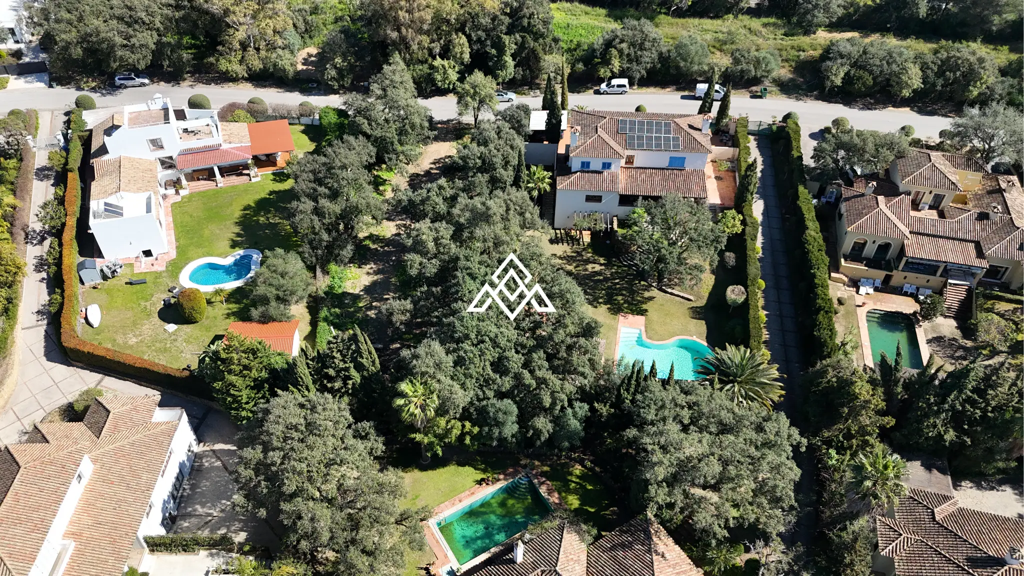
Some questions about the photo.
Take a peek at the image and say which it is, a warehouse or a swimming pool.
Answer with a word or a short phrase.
swimming pool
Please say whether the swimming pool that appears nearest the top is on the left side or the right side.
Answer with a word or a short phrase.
left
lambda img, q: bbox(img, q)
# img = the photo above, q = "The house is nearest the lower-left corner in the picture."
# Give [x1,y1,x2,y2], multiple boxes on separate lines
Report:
[0,394,201,576]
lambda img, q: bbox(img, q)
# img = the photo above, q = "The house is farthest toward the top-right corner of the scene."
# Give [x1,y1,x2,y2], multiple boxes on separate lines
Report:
[832,147,1024,319]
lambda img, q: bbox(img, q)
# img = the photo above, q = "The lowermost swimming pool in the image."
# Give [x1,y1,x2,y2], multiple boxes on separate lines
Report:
[432,470,558,567]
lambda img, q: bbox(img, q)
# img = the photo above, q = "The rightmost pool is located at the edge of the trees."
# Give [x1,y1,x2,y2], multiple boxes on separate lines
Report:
[861,304,928,375]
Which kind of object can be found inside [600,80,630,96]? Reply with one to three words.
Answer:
vehicle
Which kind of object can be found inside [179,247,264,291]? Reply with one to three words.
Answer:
swimming pool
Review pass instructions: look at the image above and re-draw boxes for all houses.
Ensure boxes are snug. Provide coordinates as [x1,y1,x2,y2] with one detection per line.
[0,394,201,576]
[87,87,258,258]
[832,147,1024,319]
[471,509,705,576]
[554,108,718,232]
[0,0,43,50]
[865,486,1024,576]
